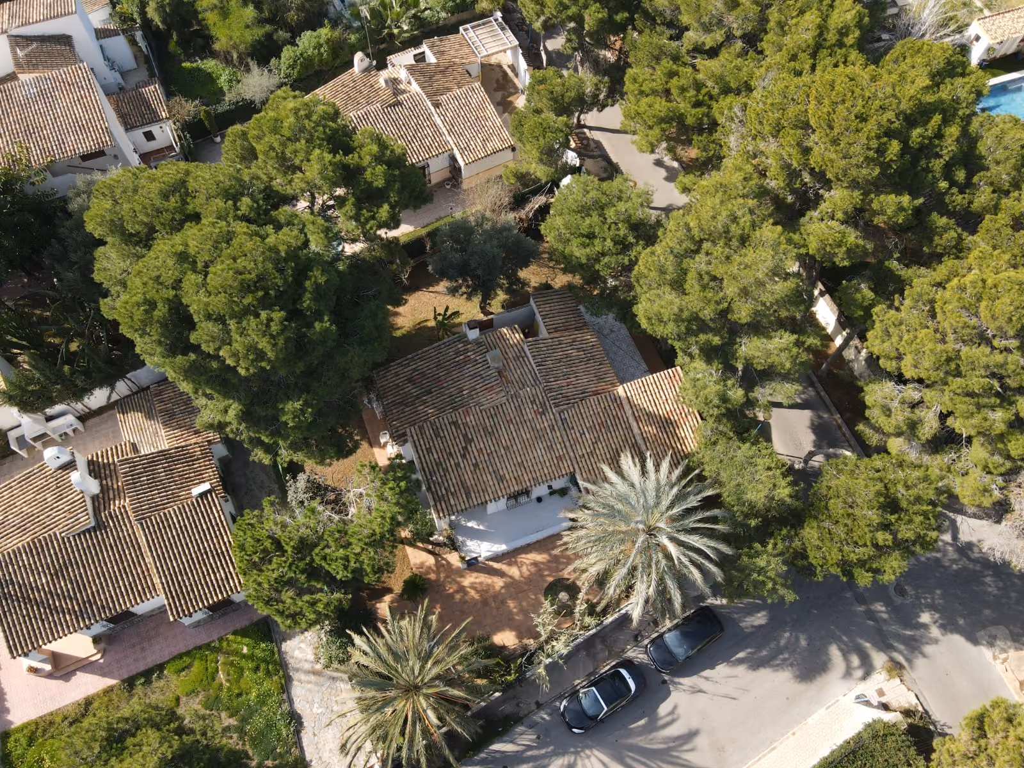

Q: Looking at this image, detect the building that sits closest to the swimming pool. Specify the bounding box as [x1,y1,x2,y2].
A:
[960,1,1024,69]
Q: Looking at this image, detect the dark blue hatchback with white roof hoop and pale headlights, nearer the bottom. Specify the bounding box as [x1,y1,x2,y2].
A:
[560,656,649,735]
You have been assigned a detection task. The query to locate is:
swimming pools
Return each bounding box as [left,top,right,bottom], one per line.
[972,78,1024,128]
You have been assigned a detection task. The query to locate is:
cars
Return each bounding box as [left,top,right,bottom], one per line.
[645,600,728,674]
[560,656,649,735]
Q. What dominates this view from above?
trees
